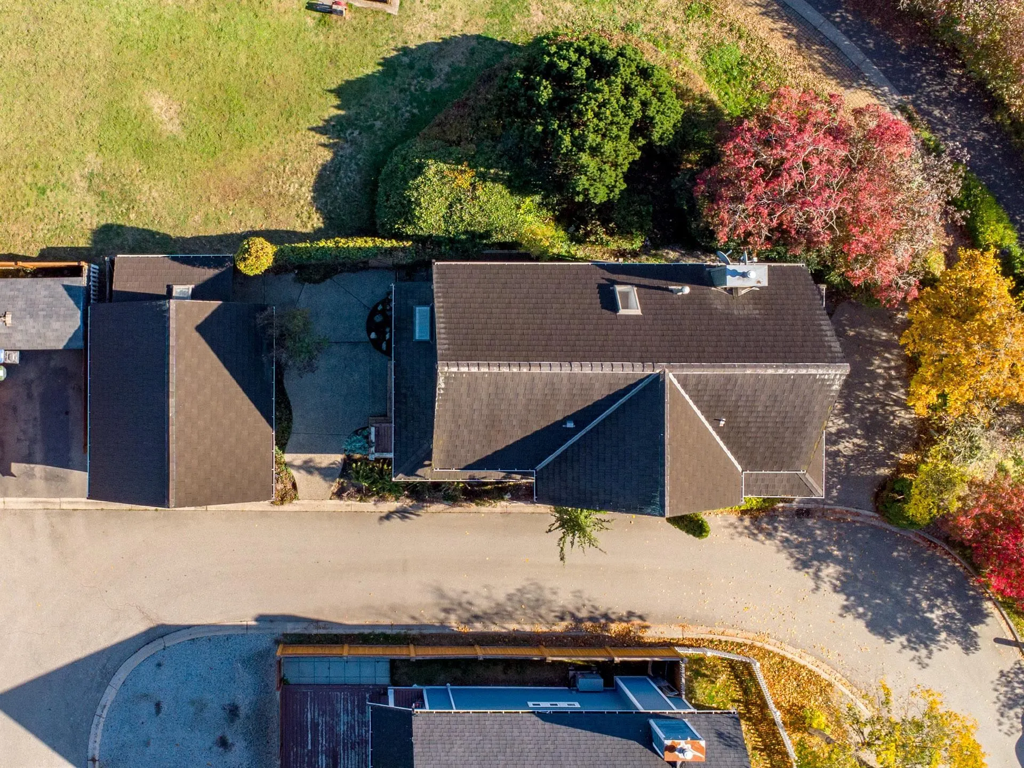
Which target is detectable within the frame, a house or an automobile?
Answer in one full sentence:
There is a house in the scene.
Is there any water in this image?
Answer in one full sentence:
No, there is no water in the image.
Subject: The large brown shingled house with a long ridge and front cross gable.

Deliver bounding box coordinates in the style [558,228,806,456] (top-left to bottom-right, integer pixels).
[390,260,851,514]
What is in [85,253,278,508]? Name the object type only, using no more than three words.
building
